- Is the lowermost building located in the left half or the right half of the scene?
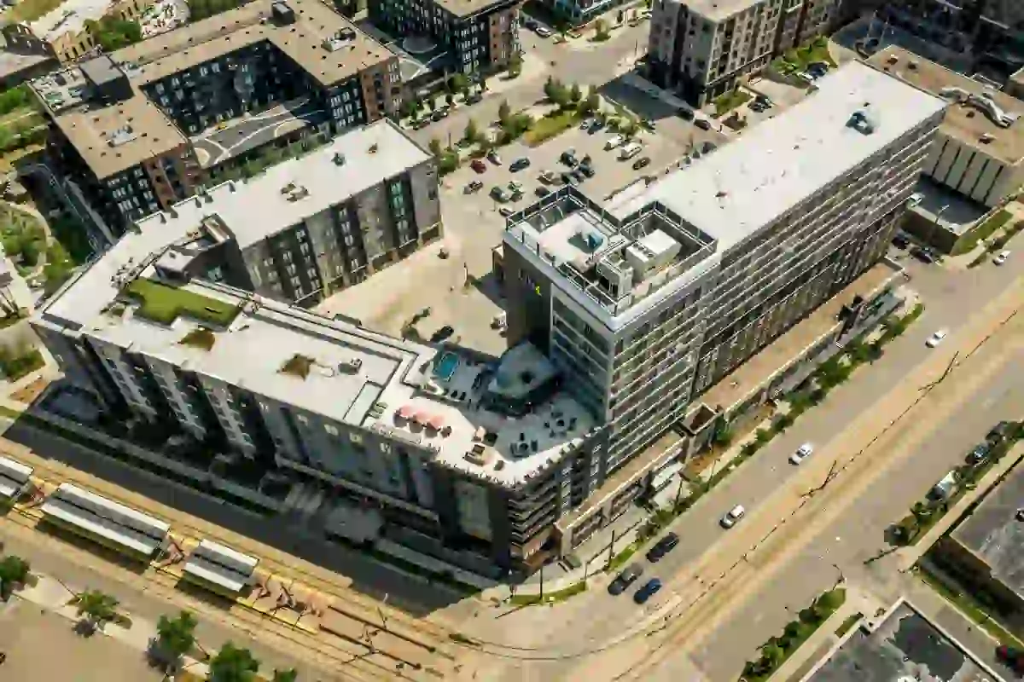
right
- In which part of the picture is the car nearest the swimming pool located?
center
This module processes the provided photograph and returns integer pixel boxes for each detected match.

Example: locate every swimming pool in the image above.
[432,349,461,383]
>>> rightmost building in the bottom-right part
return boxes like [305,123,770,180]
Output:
[933,461,1024,616]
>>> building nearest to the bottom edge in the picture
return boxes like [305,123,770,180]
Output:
[823,599,1006,682]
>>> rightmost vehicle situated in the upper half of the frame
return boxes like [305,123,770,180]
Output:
[990,246,1013,266]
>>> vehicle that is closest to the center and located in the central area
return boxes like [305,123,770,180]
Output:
[486,305,507,334]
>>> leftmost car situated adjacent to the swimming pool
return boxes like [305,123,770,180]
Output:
[430,321,456,346]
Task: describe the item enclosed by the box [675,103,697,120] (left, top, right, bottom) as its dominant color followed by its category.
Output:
black car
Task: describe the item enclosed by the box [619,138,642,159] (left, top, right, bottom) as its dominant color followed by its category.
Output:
white vehicle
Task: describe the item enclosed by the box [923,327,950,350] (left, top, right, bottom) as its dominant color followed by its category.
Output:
white car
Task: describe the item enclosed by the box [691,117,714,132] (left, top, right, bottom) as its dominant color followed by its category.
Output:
gray car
